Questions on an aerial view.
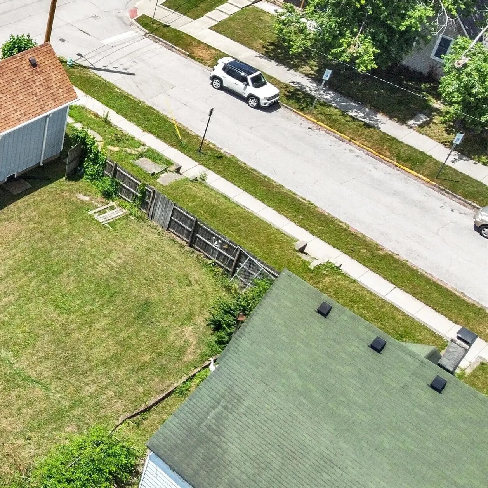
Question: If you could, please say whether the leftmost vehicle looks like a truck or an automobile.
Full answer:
I'd identify the leftmost vehicle as an automobile.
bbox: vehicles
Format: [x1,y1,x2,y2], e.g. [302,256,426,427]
[209,56,284,108]
[472,206,488,239]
